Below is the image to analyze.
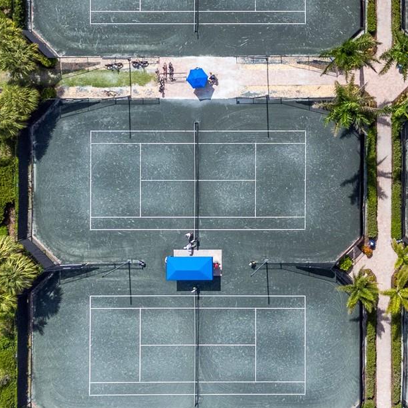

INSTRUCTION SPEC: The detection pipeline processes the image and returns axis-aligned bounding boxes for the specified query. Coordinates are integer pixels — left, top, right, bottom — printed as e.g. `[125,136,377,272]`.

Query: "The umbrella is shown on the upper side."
[187,67,210,88]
